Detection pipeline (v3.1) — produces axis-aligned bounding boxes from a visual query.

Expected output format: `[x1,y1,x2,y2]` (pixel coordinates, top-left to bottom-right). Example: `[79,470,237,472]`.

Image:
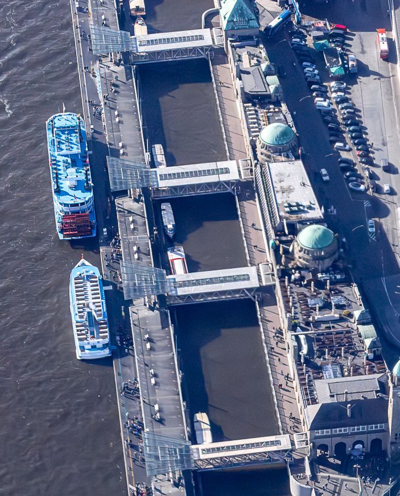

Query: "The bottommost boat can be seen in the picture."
[192,409,215,445]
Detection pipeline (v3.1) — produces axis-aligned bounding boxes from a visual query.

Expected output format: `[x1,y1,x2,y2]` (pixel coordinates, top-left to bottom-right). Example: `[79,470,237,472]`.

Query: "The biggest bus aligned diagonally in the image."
[260,9,289,35]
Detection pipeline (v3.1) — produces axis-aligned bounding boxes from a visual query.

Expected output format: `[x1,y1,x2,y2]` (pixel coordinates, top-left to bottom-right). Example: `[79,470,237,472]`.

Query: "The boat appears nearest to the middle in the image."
[166,245,189,275]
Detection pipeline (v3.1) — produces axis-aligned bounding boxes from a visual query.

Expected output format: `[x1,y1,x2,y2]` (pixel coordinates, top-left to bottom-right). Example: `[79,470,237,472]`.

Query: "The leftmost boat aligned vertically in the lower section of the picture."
[69,254,112,361]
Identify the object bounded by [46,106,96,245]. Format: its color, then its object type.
blue ship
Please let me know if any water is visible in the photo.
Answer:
Yes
